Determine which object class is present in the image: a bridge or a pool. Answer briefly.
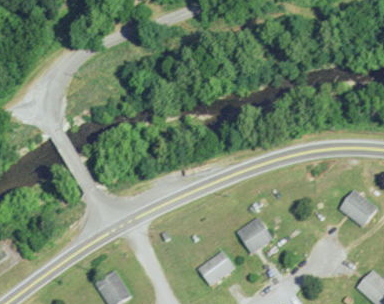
bridge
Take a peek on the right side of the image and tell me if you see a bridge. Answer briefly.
No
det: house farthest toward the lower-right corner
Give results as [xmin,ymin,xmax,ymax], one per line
[356,270,384,304]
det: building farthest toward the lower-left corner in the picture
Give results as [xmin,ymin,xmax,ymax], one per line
[96,270,132,304]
